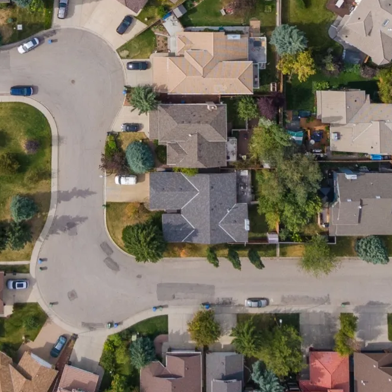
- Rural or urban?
urban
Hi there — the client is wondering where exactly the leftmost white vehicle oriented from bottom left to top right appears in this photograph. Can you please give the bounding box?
[17,36,39,53]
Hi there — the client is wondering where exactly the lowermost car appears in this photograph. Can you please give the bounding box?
[50,333,67,356]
